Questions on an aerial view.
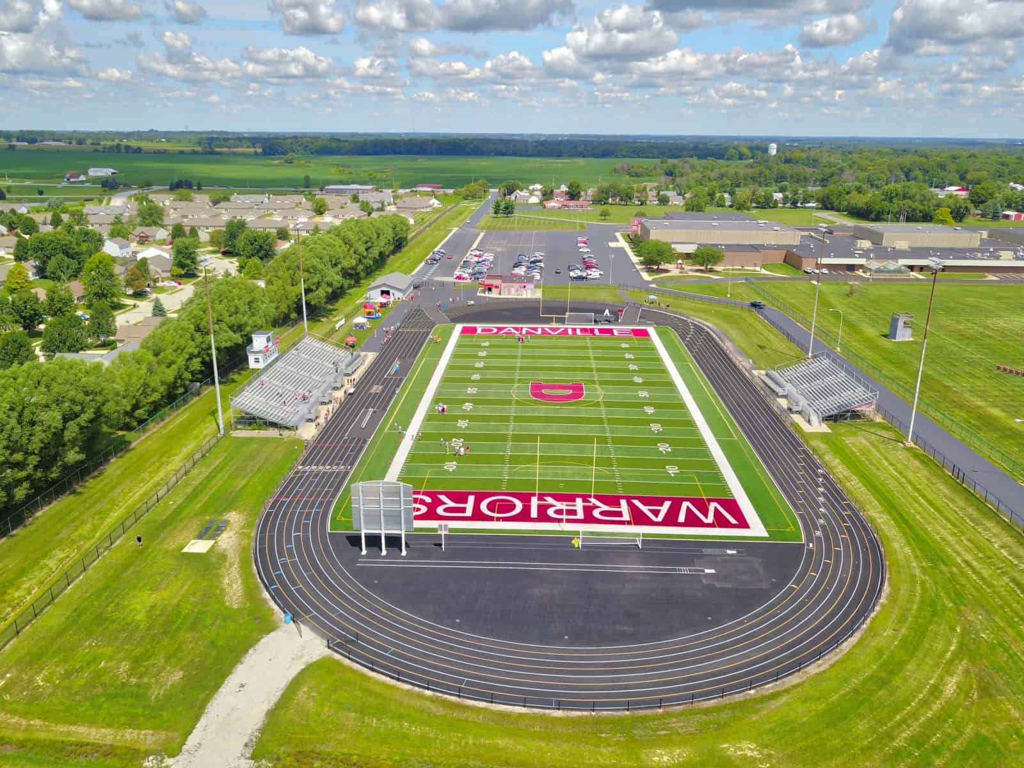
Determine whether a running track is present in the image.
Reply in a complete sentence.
Yes, a running track appears in the view.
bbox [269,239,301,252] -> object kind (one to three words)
house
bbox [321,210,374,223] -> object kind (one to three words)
house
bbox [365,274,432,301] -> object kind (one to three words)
building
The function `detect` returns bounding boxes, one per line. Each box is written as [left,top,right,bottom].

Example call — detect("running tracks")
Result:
[253,300,887,711]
